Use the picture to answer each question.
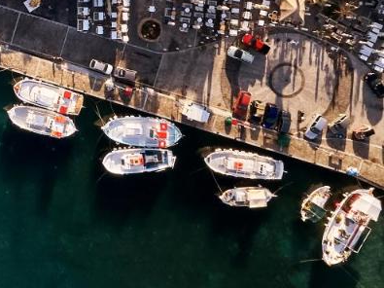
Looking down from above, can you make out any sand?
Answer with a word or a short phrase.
No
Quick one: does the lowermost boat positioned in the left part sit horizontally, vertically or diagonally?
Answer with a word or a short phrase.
horizontally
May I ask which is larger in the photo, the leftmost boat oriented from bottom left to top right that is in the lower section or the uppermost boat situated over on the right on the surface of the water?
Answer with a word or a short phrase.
the uppermost boat situated over on the right on the surface of the water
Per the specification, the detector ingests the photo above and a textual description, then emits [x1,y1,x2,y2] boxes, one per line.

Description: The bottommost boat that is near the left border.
[6,106,79,134]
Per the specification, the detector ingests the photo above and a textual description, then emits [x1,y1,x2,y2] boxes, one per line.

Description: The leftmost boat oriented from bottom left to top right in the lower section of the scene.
[297,185,328,223]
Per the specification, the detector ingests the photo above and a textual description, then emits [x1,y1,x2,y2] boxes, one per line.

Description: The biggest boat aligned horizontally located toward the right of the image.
[199,147,289,178]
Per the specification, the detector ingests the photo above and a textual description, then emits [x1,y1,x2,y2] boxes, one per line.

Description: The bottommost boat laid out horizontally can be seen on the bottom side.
[211,170,287,208]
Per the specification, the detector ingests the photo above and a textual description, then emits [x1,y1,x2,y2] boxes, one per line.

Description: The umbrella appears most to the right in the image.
[276,0,304,23]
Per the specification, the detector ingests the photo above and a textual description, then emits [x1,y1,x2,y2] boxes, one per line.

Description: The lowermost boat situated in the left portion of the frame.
[97,149,180,179]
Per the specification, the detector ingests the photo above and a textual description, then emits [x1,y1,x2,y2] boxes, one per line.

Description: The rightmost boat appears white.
[316,178,384,267]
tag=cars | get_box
[224,45,255,64]
[303,112,328,141]
[239,33,272,56]
[230,89,250,121]
[246,98,264,127]
[113,65,139,81]
[327,112,351,138]
[276,110,292,134]
[360,71,384,101]
[259,102,280,130]
[88,58,114,77]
